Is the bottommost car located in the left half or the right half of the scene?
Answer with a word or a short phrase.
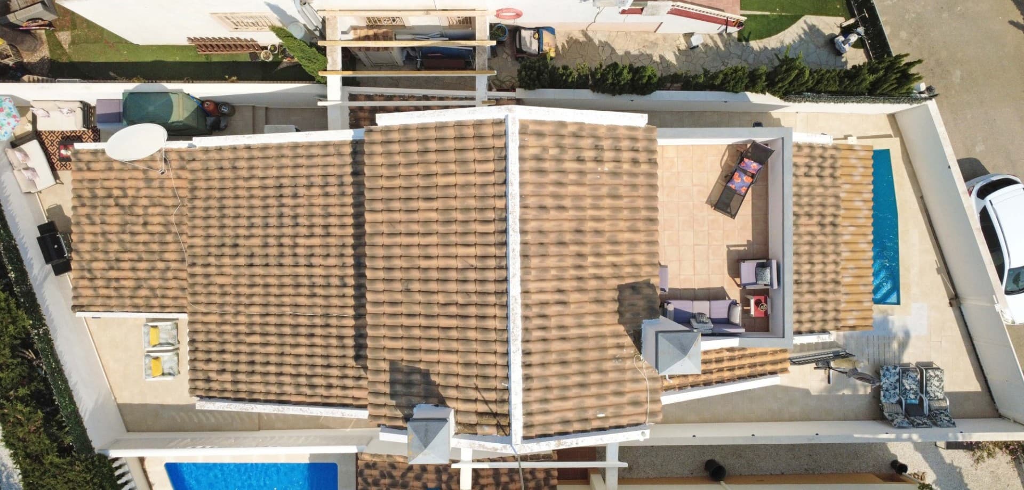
right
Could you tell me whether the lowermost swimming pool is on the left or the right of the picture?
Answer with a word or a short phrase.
left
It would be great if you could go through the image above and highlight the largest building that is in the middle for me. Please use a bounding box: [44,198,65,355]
[68,105,875,463]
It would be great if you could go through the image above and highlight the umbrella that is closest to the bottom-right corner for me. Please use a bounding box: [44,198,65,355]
[814,357,871,386]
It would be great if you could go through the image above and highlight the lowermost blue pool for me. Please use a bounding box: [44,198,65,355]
[164,463,338,490]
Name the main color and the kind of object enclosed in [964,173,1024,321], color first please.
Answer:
white car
